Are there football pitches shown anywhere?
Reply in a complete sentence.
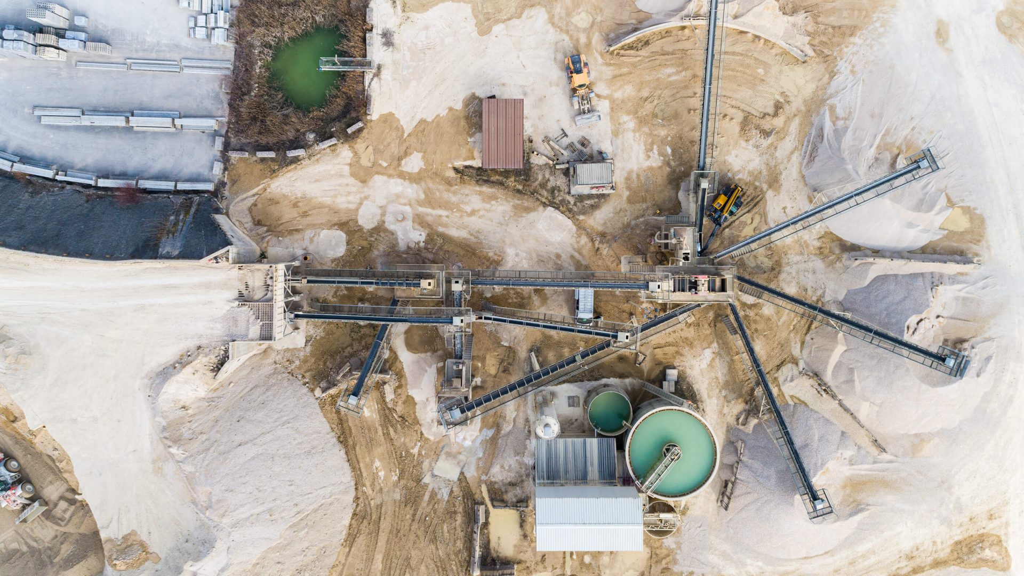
No, there's no football pitch here.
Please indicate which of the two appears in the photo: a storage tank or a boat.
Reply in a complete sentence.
There is a storage tank in the scene.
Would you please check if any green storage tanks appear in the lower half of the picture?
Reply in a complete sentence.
Yes, a green storage tank can be seen in the lower half of the picture.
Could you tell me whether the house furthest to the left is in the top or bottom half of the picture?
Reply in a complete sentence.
You can find the house furthest to the left in the bottom half.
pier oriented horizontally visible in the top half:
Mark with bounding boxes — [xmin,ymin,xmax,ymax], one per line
[318,56,373,74]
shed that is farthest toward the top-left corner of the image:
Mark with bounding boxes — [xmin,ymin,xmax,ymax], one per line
[482,98,523,172]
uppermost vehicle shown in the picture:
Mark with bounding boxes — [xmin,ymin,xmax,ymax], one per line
[562,48,599,127]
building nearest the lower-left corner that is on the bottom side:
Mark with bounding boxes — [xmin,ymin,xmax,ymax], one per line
[437,355,472,445]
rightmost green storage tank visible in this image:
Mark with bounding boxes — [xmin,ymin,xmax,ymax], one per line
[617,380,720,503]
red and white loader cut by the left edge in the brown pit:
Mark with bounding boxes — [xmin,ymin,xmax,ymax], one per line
[0,456,48,525]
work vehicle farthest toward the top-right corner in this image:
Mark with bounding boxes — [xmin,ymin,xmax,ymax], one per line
[706,183,748,248]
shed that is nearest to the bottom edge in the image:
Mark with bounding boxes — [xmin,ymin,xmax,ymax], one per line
[535,483,644,551]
